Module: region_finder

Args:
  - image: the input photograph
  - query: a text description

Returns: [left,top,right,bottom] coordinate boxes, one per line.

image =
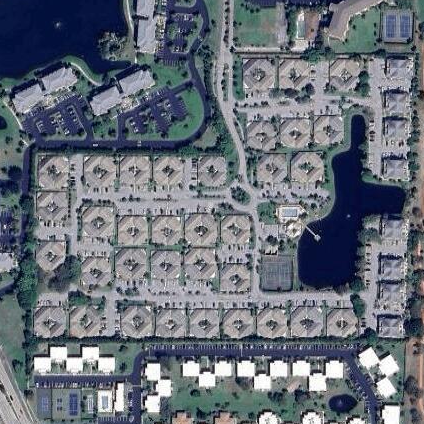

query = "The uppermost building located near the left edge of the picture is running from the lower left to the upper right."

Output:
[14,65,78,112]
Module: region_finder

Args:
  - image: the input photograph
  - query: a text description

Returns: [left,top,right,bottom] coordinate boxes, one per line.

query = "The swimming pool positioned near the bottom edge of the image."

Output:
[98,390,112,412]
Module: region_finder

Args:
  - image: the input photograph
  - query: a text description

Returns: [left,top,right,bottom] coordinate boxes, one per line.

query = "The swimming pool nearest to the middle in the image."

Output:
[278,205,300,221]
